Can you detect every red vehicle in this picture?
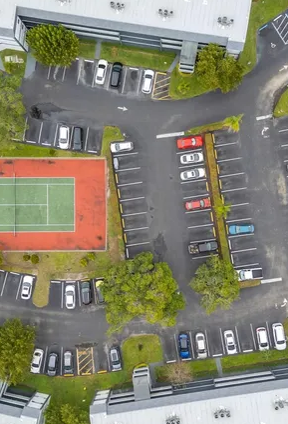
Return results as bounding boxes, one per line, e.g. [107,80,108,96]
[177,136,202,148]
[187,198,211,209]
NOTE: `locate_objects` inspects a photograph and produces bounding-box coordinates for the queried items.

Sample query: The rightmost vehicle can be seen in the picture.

[272,324,286,348]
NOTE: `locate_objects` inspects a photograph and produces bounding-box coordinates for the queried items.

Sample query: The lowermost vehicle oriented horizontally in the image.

[236,268,264,281]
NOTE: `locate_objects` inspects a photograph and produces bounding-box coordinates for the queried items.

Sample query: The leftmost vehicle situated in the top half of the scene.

[57,125,70,149]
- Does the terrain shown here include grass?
Yes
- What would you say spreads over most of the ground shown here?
paved ground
